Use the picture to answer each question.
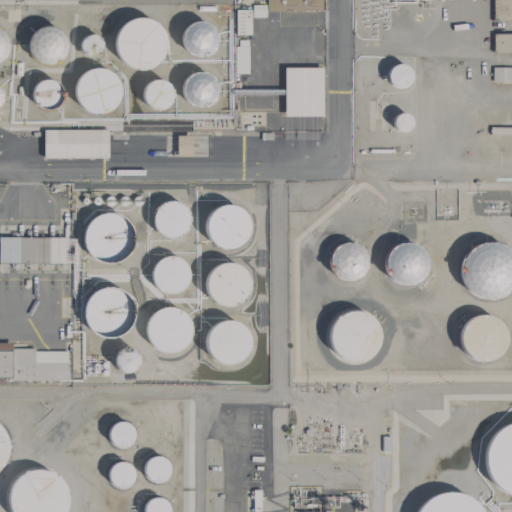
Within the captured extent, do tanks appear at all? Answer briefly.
Yes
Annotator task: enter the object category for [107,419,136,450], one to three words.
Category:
storage tank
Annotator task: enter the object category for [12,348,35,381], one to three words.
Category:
building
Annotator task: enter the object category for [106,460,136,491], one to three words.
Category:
storage tank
